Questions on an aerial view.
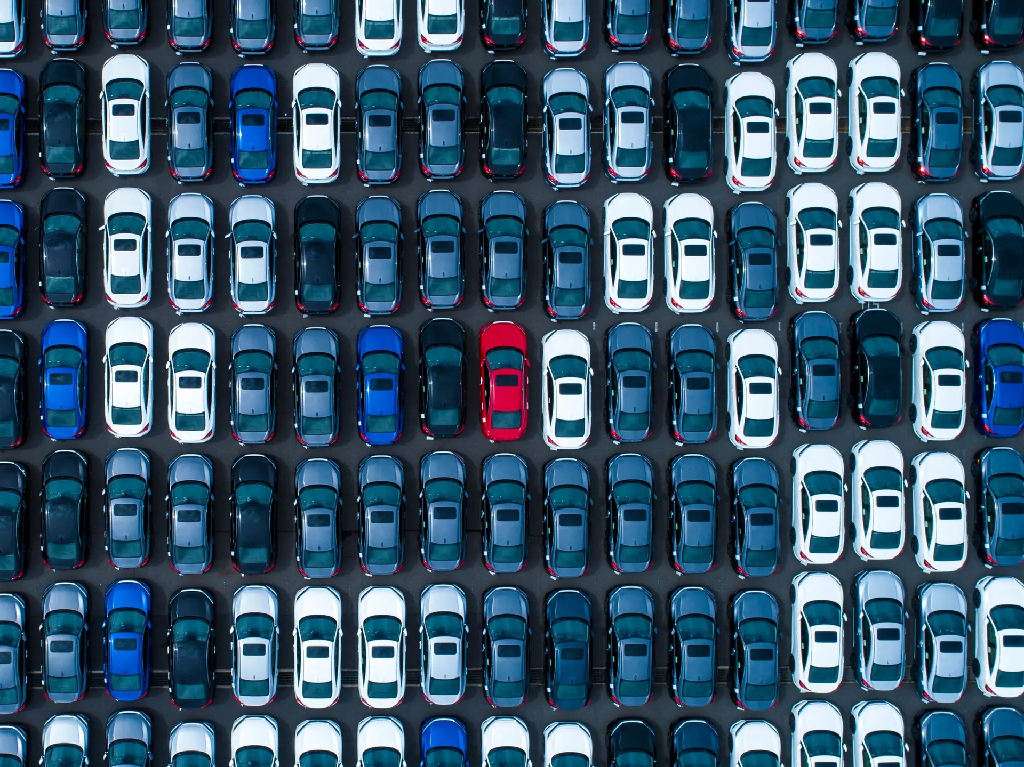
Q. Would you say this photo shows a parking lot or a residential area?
parking lot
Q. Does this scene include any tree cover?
No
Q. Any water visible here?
No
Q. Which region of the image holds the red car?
center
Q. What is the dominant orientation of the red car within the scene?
vertically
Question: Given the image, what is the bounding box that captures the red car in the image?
[478,321,531,443]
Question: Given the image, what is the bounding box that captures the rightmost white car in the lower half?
[971,576,1024,700]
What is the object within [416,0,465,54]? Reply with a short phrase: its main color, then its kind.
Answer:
white car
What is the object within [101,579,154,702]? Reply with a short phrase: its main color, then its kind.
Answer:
blue car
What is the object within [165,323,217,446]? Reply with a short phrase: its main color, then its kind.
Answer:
white car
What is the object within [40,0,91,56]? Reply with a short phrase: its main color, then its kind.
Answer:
blue car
